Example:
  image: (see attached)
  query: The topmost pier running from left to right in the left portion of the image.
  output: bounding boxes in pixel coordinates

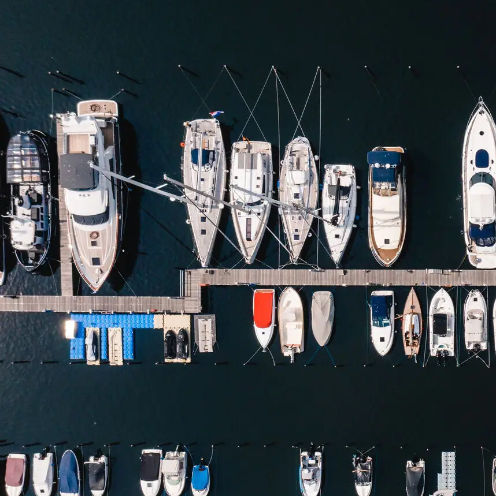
[0,270,206,313]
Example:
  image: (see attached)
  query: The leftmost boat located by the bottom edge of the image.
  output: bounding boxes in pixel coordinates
[4,454,30,496]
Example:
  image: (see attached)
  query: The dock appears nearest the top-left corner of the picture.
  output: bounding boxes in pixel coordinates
[60,117,80,296]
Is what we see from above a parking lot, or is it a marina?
marina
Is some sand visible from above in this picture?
No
